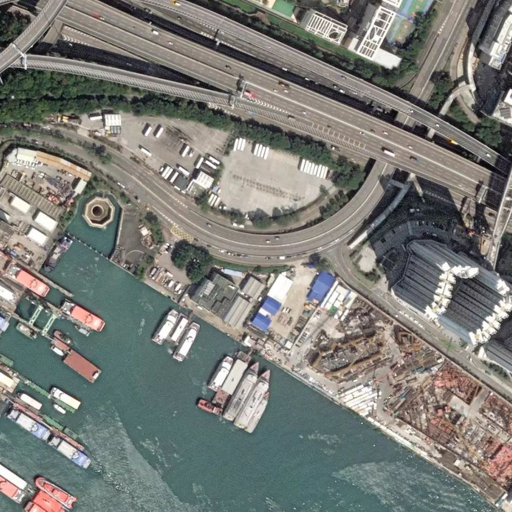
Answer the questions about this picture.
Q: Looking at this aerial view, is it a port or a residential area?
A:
port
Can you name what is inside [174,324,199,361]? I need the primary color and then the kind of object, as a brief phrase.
white ship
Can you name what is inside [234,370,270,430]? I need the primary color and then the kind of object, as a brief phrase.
white vessel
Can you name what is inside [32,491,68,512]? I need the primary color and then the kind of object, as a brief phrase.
red ship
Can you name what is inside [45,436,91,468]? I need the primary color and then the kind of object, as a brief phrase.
white ship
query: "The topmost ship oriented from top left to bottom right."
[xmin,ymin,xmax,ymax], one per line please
[6,266,50,298]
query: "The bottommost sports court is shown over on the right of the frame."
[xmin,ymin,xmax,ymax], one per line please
[386,16,416,45]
